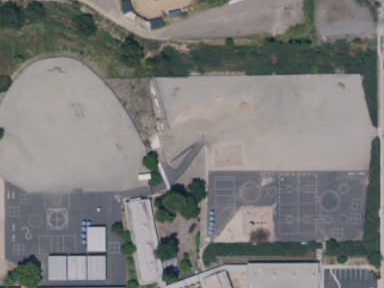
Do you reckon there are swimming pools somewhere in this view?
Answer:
No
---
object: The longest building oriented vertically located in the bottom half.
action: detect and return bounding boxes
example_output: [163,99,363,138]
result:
[125,198,163,284]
